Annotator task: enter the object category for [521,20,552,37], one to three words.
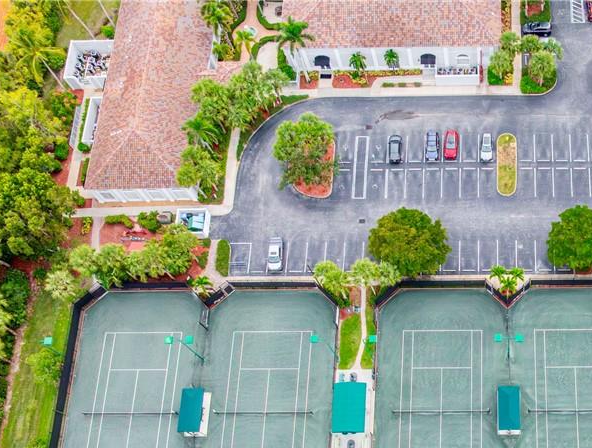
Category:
car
